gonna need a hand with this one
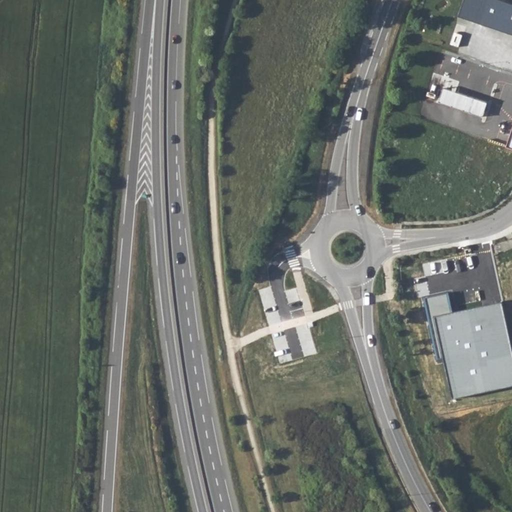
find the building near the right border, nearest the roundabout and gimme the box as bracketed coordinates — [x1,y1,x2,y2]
[421,288,512,399]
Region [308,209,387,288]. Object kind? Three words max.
roundabout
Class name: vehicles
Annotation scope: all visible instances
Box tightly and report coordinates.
[273,332,284,338]
[454,261,460,273]
[172,80,176,90]
[442,260,448,274]
[348,105,354,116]
[430,262,436,274]
[364,293,370,306]
[176,252,182,264]
[428,501,436,512]
[450,58,462,64]
[368,335,374,347]
[415,277,426,284]
[368,266,373,278]
[356,108,362,121]
[172,34,177,45]
[355,204,362,216]
[291,301,302,308]
[390,419,397,430]
[466,256,474,270]
[171,202,176,214]
[274,349,288,356]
